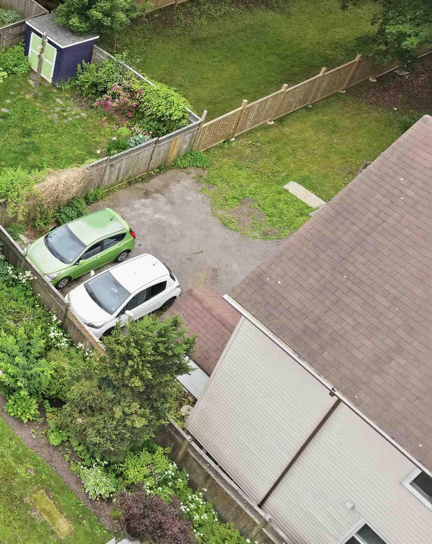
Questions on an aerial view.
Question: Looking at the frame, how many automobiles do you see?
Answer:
2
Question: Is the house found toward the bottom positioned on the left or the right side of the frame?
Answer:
right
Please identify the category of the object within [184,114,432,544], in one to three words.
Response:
house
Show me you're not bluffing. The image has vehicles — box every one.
[26,210,138,291]
[67,250,185,338]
